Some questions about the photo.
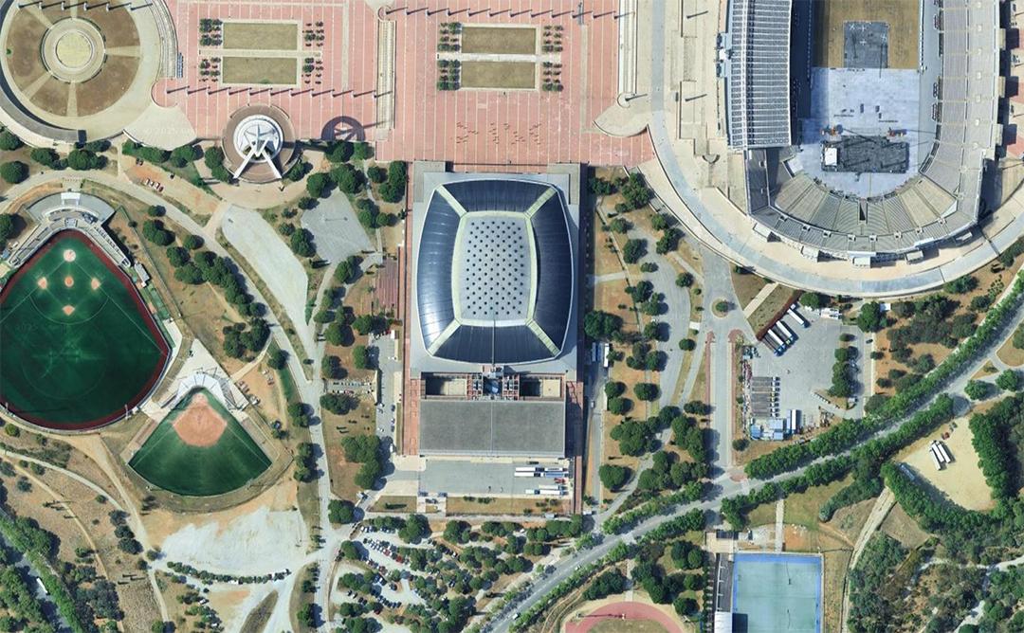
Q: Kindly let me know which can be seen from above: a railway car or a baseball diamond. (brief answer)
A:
baseball diamond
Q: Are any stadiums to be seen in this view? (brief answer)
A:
Yes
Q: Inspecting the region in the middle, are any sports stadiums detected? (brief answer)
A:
Yes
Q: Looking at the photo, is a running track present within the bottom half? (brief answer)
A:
Yes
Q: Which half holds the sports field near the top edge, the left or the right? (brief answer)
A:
right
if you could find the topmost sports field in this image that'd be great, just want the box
[813,0,919,68]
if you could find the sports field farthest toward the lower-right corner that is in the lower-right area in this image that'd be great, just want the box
[732,551,824,633]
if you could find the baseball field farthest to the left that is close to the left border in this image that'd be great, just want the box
[0,230,169,431]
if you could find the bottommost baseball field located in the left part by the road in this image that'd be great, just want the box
[120,384,292,508]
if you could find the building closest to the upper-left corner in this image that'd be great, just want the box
[0,91,87,153]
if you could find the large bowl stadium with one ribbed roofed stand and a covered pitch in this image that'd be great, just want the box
[717,0,1006,267]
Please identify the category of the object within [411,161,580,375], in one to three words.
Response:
stadium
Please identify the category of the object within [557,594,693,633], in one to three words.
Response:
running track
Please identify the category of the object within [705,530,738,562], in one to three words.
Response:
building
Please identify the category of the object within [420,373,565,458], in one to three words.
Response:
building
